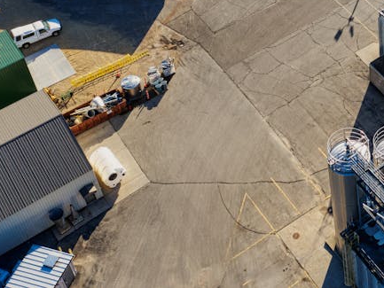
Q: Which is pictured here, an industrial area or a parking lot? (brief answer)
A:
industrial area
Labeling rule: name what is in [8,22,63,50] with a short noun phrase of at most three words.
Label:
truck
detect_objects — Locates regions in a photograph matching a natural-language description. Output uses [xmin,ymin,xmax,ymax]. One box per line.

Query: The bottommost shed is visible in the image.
[6,246,80,288]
